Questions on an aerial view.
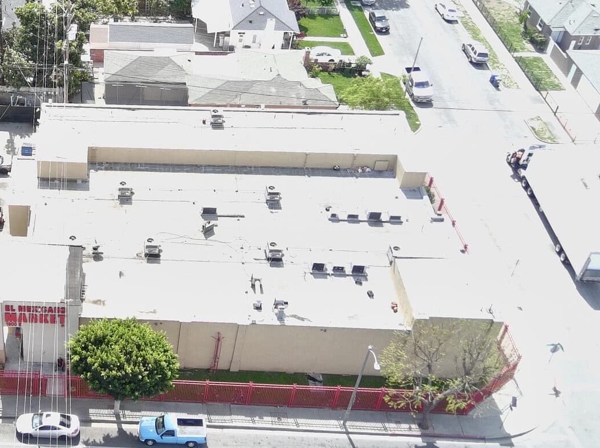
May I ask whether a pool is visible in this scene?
No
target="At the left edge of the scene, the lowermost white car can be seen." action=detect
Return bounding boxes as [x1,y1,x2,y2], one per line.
[17,412,80,442]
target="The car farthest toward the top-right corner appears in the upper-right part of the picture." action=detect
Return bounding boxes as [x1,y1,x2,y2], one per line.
[459,41,493,66]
